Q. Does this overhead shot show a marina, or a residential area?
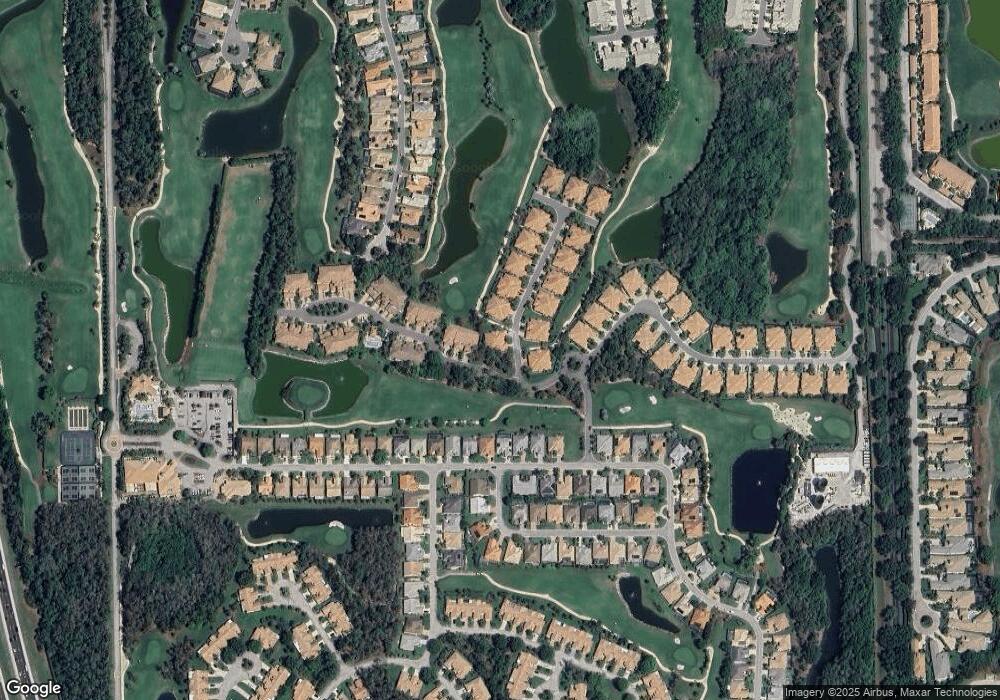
residential area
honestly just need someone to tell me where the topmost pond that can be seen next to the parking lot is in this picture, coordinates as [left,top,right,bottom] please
[139,217,195,362]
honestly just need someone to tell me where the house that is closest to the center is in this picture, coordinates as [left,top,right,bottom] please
[483,330,508,350]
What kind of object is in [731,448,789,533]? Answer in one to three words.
pond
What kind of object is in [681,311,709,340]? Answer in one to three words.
house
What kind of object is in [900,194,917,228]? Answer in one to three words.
tennis court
